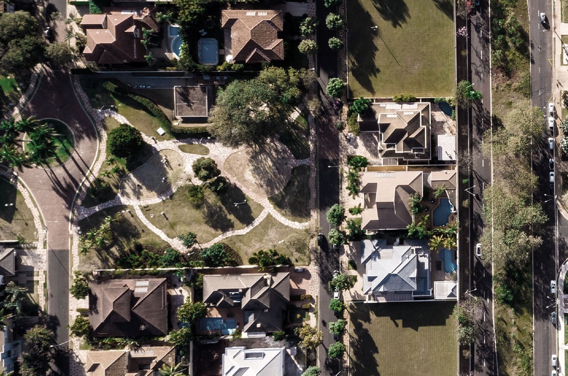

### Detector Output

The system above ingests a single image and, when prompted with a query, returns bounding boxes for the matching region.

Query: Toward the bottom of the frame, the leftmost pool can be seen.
[199,317,235,335]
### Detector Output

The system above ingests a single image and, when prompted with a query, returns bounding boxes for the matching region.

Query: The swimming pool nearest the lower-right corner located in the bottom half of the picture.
[439,248,455,273]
